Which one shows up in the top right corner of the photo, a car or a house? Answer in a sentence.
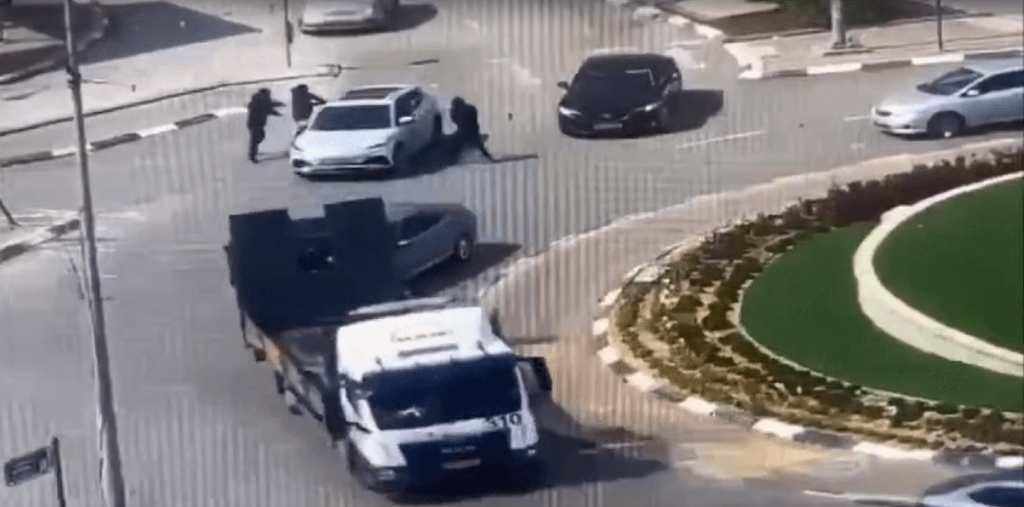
There is a car in the top right corner of the photo.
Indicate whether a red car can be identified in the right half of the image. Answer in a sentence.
No, there's no red car to be seen in the right half of the image.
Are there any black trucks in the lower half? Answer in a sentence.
Yes, a black truck can be seen in the lower half.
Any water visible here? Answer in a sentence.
No, no water is visible.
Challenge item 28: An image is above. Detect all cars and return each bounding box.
[555,48,683,140]
[301,0,413,35]
[872,53,1024,145]
[290,74,451,178]
[393,201,486,289]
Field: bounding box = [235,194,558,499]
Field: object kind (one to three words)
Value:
truck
